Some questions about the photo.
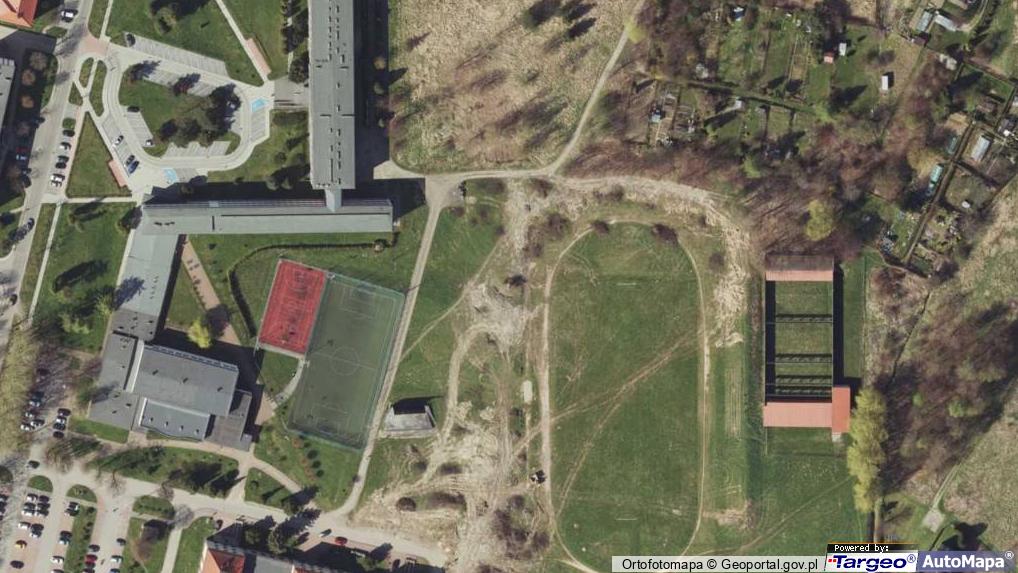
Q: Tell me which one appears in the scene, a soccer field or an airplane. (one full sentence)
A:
It is a soccer field that can be seen here.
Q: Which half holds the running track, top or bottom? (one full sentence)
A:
The running track sits in the bottom half of the picture.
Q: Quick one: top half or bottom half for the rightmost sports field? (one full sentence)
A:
The rightmost sports field sits in the bottom half of the picture.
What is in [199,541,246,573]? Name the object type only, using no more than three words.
house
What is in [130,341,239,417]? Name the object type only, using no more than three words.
building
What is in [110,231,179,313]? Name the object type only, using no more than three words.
building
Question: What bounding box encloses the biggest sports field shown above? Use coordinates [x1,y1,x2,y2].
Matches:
[551,227,702,570]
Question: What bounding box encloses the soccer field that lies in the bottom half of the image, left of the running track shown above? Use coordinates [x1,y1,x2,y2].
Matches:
[285,274,405,450]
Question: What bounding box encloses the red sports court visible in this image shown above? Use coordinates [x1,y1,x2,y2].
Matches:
[256,259,328,360]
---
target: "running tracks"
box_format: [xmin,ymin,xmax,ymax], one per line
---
[541,217,712,573]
